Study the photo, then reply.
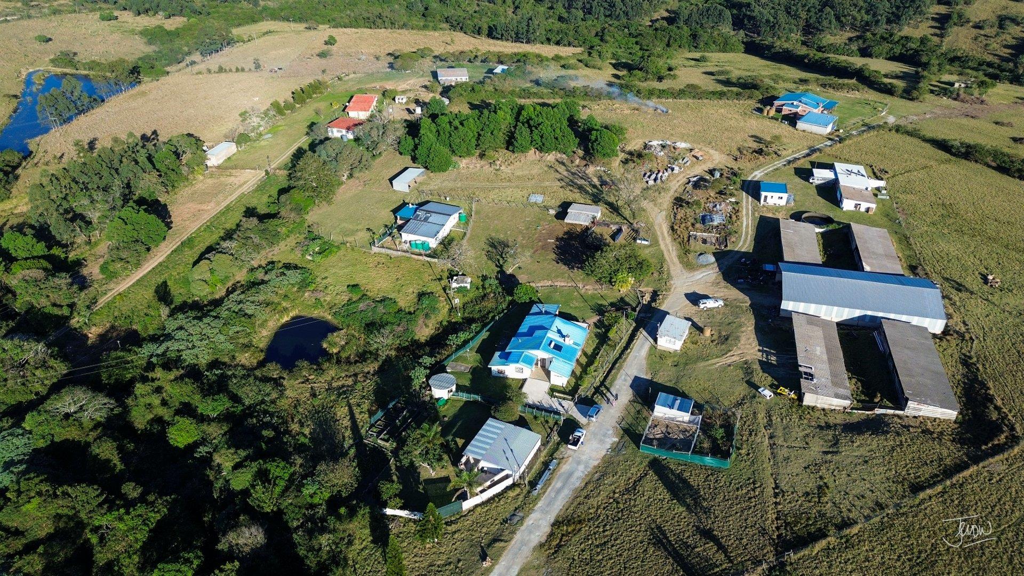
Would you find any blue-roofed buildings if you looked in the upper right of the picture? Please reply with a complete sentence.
Yes, a blue-roofed building shows up in the upper right of the picture.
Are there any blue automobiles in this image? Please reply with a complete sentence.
Yes, the photo shows a blue automobile.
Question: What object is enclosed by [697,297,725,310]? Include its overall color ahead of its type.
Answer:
white vehicle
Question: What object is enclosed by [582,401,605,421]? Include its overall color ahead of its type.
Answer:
blue car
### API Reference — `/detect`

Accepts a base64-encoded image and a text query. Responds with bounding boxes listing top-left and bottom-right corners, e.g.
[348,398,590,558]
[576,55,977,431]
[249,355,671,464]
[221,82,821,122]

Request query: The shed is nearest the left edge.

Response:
[205,141,237,169]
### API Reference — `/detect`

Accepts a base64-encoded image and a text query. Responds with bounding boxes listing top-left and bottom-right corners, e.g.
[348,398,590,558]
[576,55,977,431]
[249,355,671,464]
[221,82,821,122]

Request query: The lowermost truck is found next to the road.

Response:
[565,424,589,449]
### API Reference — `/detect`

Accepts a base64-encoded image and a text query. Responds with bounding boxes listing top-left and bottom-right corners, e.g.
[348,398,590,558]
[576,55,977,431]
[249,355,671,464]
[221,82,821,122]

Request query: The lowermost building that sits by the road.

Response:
[463,417,538,487]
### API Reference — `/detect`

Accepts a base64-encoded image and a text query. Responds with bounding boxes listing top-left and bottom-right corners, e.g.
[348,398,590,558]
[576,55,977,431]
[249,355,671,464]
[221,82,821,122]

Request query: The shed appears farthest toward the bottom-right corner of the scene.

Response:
[881,320,958,421]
